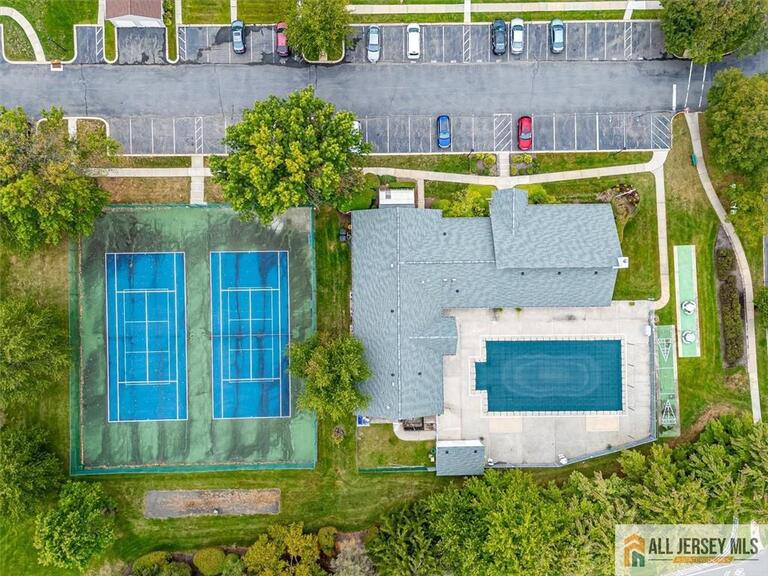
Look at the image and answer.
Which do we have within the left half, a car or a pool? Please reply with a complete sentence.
The feature located within the left half is a car.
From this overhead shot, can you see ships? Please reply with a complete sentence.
No, I can't see a single ship in this photo.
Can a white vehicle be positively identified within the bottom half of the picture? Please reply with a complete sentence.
No, no white vehicle can be made out within the bottom half of the picture.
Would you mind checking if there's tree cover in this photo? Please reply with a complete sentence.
Yes, the picture does contain tree cover.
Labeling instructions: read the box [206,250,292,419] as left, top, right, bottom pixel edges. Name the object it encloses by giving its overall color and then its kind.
blue tennis court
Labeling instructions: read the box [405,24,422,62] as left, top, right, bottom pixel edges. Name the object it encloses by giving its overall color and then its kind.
white car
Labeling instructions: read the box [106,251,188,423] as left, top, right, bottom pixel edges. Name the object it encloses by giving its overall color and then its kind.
blue tennis court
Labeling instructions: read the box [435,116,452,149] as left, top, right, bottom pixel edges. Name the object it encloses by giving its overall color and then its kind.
blue car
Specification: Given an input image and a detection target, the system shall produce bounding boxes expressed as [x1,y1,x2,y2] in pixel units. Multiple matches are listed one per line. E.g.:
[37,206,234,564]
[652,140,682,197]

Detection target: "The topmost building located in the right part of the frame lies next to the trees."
[352,188,629,421]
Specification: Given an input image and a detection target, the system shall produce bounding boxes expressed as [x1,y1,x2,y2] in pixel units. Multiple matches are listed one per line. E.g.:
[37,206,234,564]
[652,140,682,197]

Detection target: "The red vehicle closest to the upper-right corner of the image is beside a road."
[516,116,533,152]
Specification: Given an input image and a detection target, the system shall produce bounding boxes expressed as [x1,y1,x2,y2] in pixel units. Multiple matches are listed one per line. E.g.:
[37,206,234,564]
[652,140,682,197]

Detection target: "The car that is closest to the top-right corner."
[548,21,566,56]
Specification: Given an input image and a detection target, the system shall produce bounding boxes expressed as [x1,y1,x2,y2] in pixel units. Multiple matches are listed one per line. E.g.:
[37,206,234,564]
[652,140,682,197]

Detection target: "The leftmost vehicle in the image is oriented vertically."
[230,22,248,56]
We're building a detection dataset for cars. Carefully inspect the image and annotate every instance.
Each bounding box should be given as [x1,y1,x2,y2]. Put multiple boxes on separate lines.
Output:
[365,26,382,64]
[508,21,526,56]
[490,22,508,57]
[274,24,290,58]
[230,22,248,56]
[516,116,533,152]
[548,21,566,56]
[435,116,452,149]
[405,24,422,62]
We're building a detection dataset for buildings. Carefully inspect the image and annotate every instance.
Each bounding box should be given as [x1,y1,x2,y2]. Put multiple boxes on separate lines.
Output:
[436,440,484,475]
[352,188,629,421]
[105,0,166,28]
